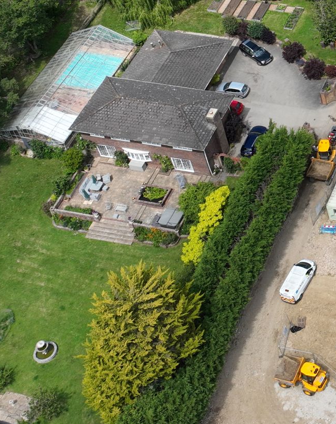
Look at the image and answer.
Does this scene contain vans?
Yes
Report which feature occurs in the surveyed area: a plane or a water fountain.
water fountain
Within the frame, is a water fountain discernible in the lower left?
Yes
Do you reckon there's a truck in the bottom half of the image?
Yes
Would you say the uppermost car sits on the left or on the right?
right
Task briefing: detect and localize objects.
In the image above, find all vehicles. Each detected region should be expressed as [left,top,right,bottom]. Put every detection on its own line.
[240,38,272,66]
[265,261,307,306]
[218,83,251,100]
[229,100,251,120]
[241,123,271,157]
[269,355,321,394]
[308,133,336,173]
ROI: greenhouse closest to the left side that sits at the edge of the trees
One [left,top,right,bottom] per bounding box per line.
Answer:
[0,28,139,155]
